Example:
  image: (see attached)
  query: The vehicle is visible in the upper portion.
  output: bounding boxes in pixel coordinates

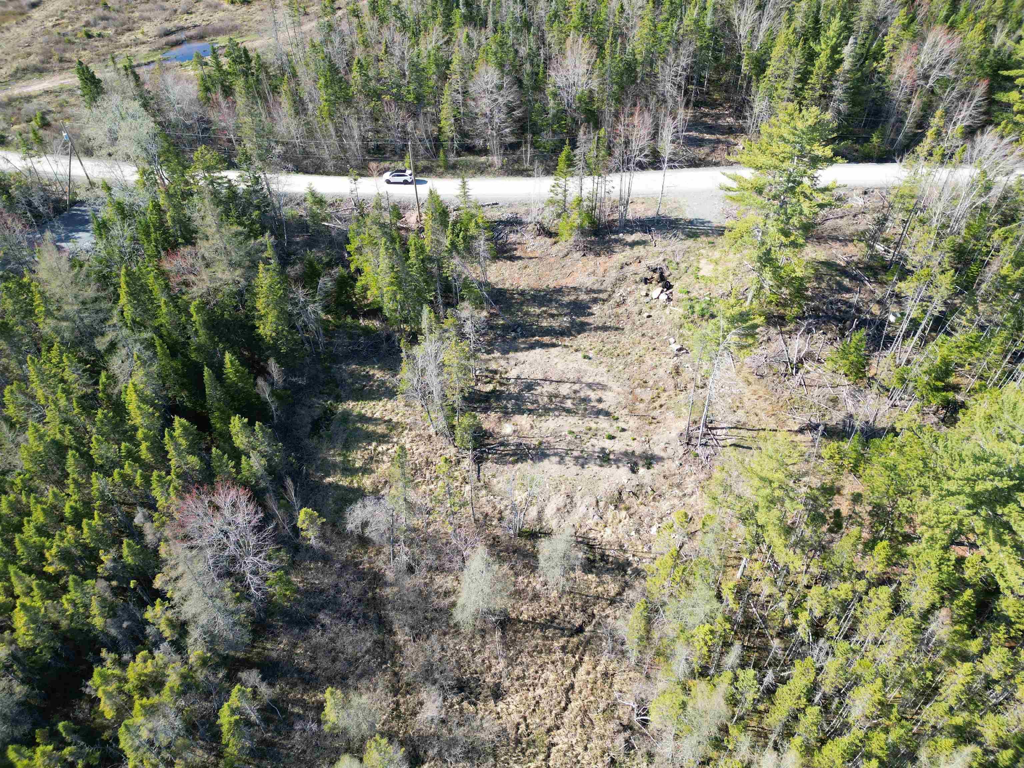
[383,167,414,182]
